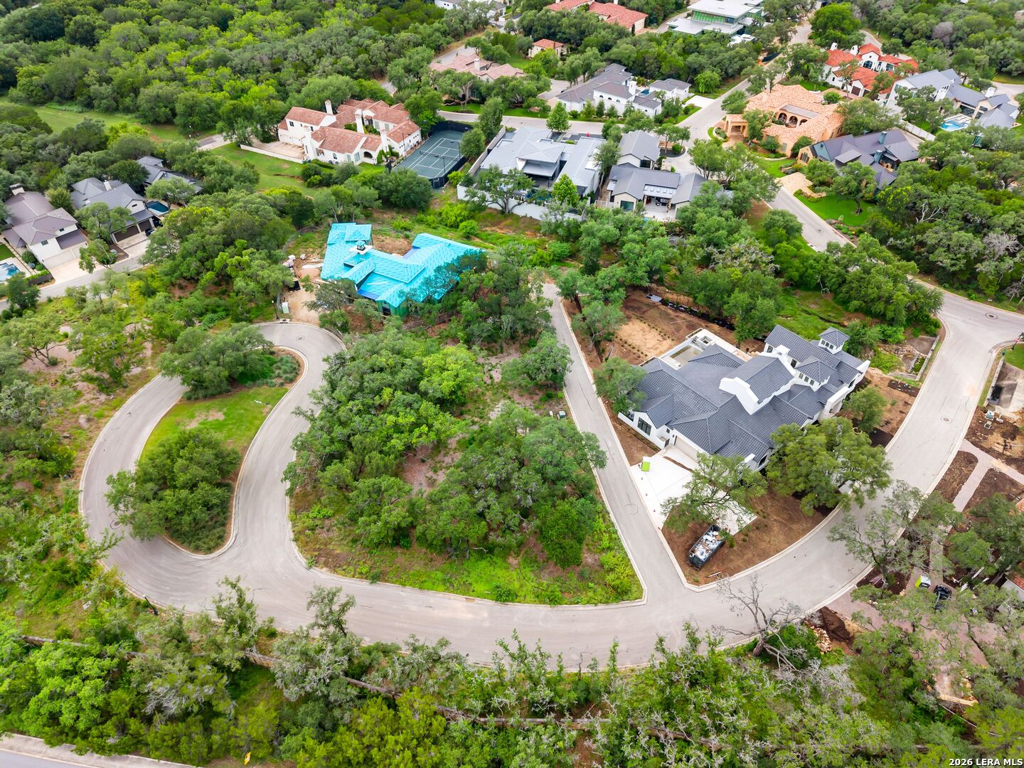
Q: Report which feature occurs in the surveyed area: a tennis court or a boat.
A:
tennis court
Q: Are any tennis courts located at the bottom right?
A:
No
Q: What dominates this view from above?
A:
trees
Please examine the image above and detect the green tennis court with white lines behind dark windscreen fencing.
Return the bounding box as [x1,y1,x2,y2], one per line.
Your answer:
[382,118,476,180]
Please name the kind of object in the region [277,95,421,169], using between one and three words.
house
